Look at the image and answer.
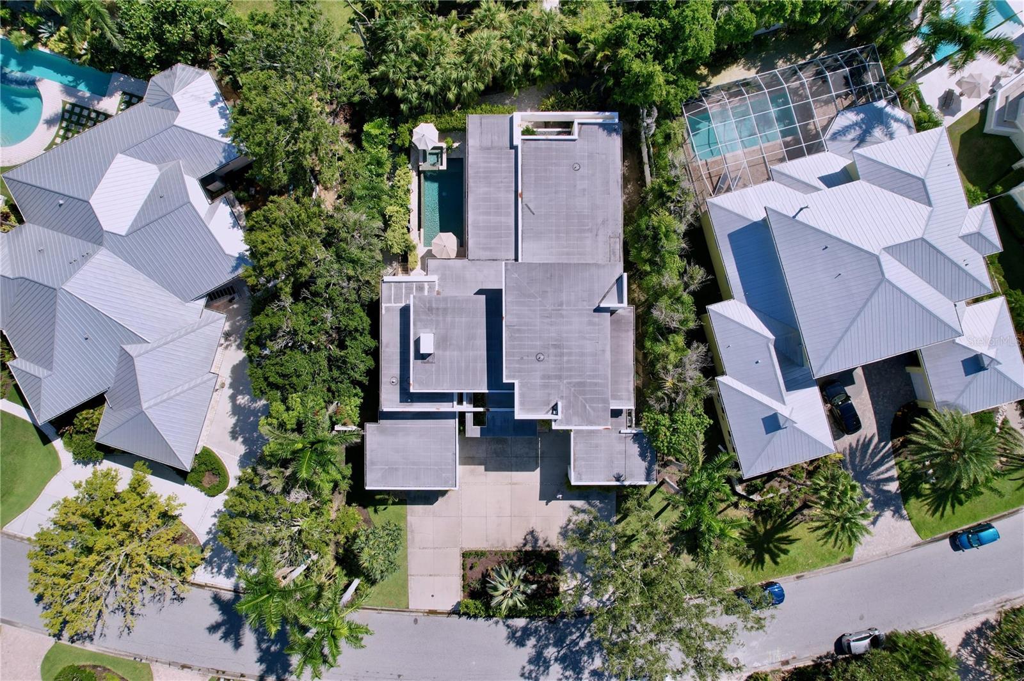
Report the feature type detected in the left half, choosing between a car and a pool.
pool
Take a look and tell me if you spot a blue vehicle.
Yes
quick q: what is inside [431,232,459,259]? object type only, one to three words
umbrella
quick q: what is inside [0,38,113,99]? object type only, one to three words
swimming pool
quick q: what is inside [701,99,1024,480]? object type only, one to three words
house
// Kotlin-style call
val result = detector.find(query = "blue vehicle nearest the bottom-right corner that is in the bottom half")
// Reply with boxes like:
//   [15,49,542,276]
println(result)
[958,520,1008,553]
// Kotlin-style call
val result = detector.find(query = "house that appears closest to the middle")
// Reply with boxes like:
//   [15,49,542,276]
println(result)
[365,111,657,491]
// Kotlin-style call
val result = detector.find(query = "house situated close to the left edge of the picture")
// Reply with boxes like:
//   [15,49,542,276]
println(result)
[0,66,255,472]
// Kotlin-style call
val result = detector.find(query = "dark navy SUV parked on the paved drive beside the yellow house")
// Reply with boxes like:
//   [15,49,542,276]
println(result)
[823,378,867,439]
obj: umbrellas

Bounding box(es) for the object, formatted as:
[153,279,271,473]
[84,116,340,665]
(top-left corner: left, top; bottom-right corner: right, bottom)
[431,232,459,259]
[412,122,440,151]
[956,69,989,103]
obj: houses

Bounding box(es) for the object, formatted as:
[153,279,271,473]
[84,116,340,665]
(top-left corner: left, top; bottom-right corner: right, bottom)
[365,111,657,491]
[701,99,1024,480]
[973,70,1024,215]
[0,66,255,472]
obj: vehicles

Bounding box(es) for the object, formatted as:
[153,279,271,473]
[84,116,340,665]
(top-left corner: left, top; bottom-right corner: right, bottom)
[958,520,1008,553]
[738,583,790,616]
[823,378,867,439]
[842,628,895,660]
